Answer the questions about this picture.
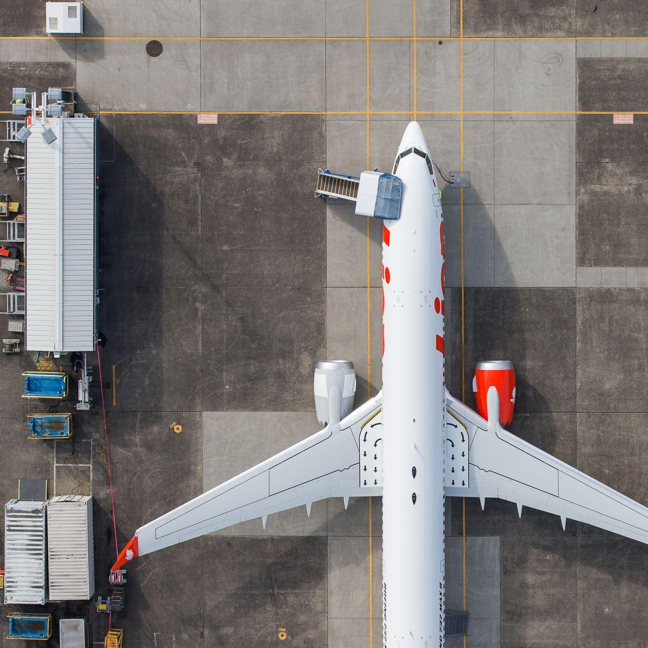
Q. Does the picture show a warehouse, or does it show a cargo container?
cargo container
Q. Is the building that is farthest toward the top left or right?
left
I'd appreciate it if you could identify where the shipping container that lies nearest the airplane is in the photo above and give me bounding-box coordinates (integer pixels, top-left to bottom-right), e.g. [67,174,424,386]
[47,496,94,600]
